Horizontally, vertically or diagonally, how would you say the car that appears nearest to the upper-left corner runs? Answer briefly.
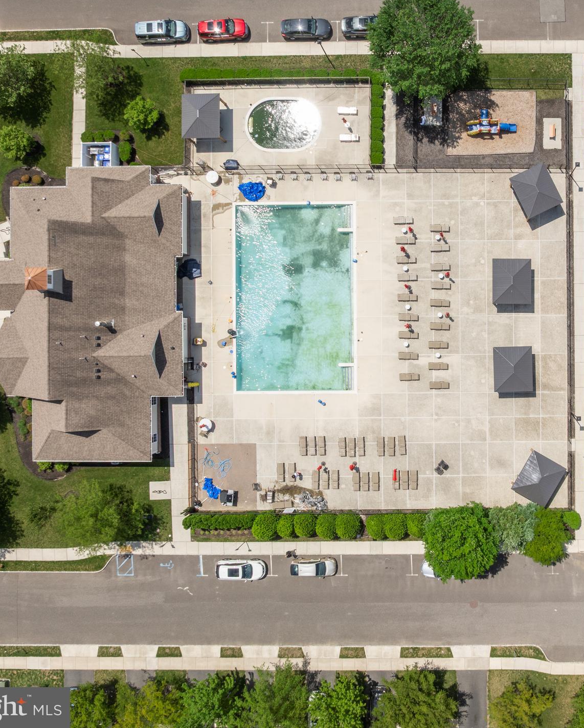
horizontally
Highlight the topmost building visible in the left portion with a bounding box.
[181,93,226,143]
